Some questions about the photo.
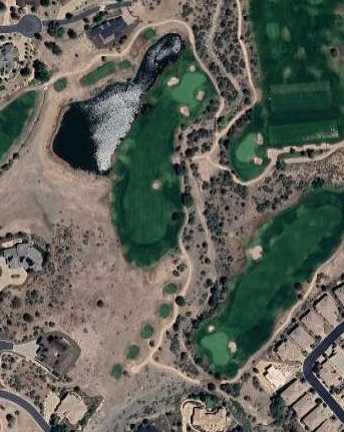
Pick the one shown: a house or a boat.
house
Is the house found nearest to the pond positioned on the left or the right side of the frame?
left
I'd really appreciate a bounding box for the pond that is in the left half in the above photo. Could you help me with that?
[53,33,184,175]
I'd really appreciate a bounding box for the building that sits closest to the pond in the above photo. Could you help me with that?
[88,8,129,48]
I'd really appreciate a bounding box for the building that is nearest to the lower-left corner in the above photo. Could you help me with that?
[56,395,90,421]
